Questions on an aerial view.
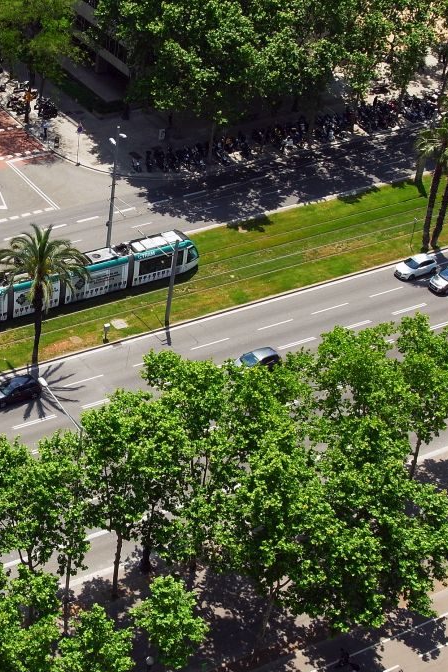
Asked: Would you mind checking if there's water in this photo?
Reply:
No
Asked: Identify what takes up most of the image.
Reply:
trees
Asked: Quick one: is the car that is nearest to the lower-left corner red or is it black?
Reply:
black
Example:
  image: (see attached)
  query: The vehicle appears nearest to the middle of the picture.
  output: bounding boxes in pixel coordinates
[230,345,289,376]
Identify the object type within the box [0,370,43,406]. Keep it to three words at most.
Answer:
car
